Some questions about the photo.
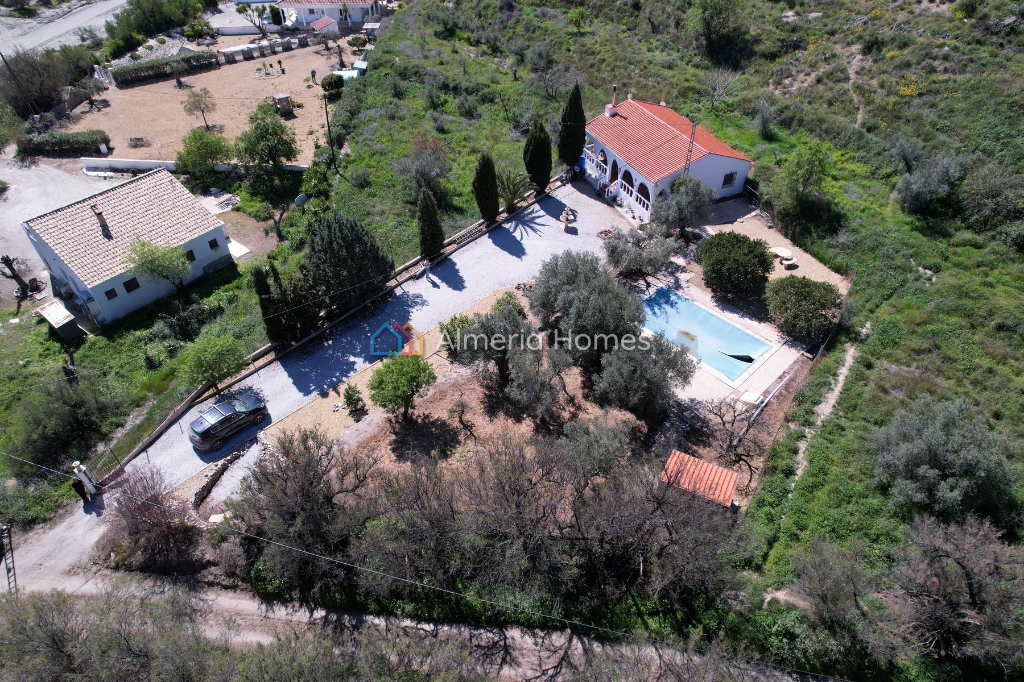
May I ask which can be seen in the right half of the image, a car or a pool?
pool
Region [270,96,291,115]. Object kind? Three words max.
shed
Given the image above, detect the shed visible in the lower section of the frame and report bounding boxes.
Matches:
[662,447,743,519]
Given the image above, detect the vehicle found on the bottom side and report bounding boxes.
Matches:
[185,394,269,450]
